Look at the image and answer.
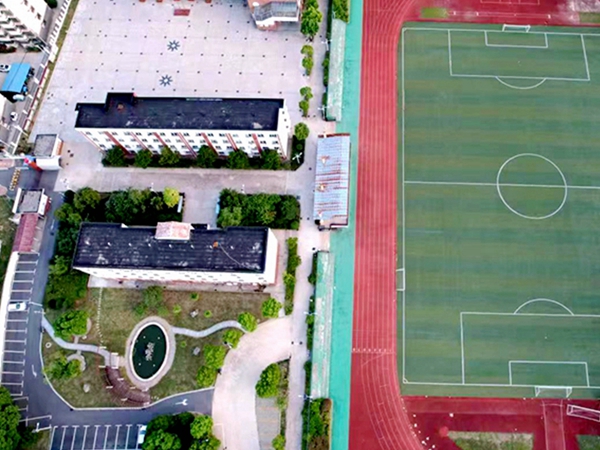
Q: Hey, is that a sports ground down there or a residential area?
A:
sports ground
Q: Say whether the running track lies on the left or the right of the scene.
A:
right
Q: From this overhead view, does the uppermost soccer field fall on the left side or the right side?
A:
right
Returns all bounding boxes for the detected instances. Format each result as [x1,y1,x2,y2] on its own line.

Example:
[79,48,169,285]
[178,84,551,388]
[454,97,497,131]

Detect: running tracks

[350,0,600,450]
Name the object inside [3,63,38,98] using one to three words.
shed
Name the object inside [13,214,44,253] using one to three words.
shed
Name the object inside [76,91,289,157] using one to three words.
building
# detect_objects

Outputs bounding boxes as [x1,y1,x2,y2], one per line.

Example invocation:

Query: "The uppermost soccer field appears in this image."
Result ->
[396,20,600,408]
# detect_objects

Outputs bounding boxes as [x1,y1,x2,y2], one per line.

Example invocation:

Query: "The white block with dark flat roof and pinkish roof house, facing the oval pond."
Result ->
[72,220,278,282]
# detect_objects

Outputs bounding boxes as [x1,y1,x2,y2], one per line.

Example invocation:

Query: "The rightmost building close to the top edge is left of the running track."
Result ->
[248,0,300,30]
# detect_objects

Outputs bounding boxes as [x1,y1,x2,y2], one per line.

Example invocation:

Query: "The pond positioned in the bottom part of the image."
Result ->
[125,316,175,391]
